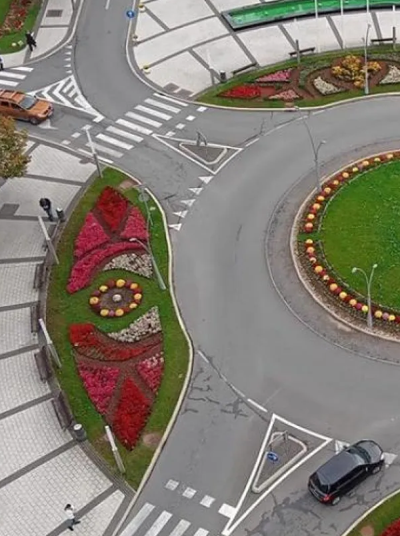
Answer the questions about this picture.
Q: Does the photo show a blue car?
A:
No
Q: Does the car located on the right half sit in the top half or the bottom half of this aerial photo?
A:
bottom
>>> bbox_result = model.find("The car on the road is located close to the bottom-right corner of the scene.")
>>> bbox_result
[306,437,386,504]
